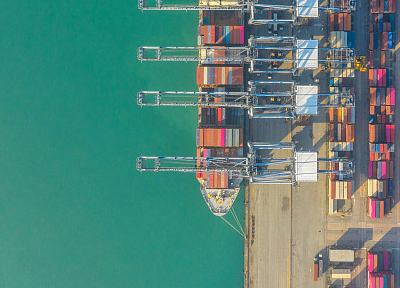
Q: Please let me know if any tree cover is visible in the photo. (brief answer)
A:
No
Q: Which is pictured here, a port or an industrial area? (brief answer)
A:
port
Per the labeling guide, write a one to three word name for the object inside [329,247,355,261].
building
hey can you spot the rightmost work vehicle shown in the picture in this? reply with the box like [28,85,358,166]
[355,54,367,72]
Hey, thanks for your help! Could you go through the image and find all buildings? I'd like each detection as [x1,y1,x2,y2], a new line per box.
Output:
[332,267,352,277]
[329,247,355,261]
